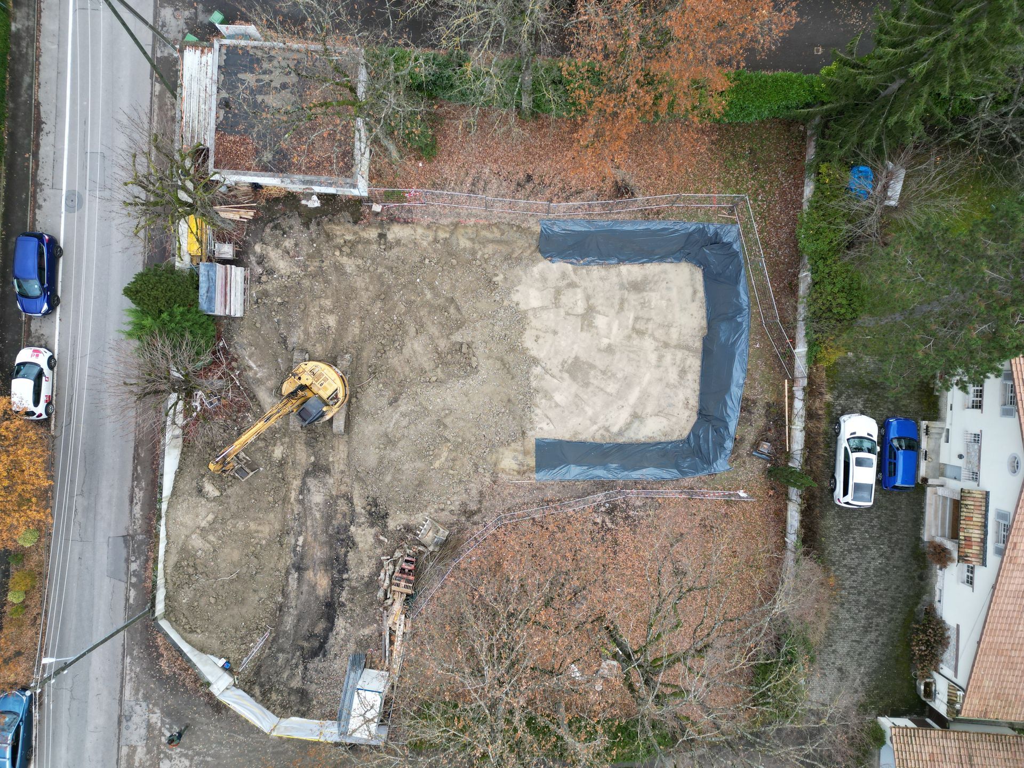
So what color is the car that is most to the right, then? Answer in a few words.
blue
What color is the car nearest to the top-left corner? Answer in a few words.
blue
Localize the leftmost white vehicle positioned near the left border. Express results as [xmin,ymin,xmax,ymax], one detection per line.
[6,348,57,423]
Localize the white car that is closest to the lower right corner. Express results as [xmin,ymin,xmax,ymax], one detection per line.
[829,412,883,506]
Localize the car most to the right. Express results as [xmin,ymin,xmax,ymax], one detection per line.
[877,417,924,493]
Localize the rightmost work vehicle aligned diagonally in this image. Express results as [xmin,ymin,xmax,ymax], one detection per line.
[202,352,357,484]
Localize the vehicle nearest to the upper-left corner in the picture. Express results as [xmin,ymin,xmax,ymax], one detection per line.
[11,234,64,315]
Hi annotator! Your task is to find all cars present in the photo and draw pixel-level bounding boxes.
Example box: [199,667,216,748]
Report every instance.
[6,348,57,423]
[0,687,37,768]
[11,234,64,315]
[829,412,883,506]
[877,417,924,493]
